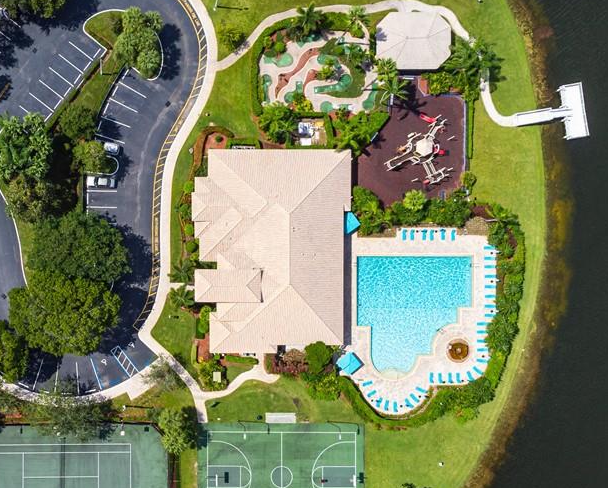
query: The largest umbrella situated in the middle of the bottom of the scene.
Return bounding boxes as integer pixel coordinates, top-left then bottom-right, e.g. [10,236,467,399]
[336,350,363,376]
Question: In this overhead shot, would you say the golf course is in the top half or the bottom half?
top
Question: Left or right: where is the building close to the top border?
right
